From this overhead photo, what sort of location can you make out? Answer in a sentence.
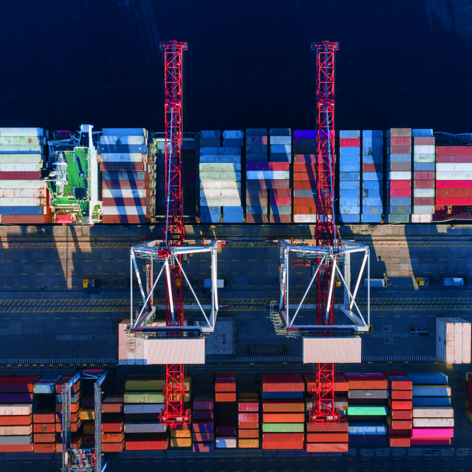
It's a port.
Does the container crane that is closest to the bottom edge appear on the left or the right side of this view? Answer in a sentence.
It is on the left.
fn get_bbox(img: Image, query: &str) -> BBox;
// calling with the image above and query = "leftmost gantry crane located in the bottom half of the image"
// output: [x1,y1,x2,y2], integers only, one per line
[59,368,116,472]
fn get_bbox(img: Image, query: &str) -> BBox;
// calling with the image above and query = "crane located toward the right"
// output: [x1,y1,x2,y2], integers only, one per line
[256,41,372,423]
